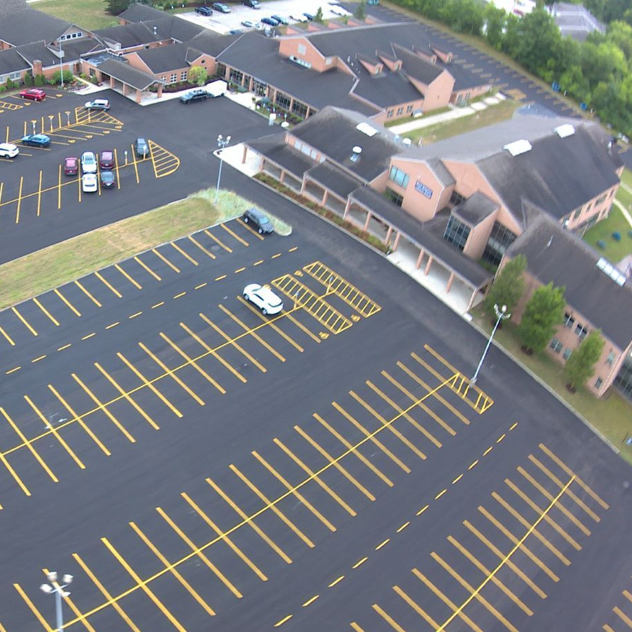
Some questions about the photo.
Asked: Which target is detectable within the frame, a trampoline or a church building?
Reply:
church building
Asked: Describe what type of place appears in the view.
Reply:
parking lot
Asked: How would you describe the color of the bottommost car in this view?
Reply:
white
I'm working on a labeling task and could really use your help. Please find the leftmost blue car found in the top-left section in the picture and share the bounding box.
[20,133,53,148]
